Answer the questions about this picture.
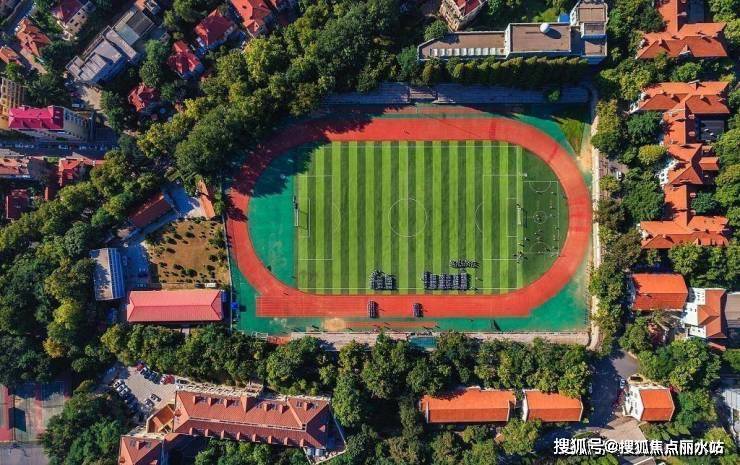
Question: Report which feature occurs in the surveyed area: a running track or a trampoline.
running track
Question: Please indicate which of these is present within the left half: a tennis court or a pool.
tennis court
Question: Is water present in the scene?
No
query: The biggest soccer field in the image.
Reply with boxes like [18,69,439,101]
[297,142,522,294]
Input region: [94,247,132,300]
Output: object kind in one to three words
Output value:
shed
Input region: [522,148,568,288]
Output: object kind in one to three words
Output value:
sports field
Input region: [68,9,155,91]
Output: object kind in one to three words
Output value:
building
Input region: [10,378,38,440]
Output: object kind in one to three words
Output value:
tennis court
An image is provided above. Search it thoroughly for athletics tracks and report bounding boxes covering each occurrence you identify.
[224,104,592,333]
